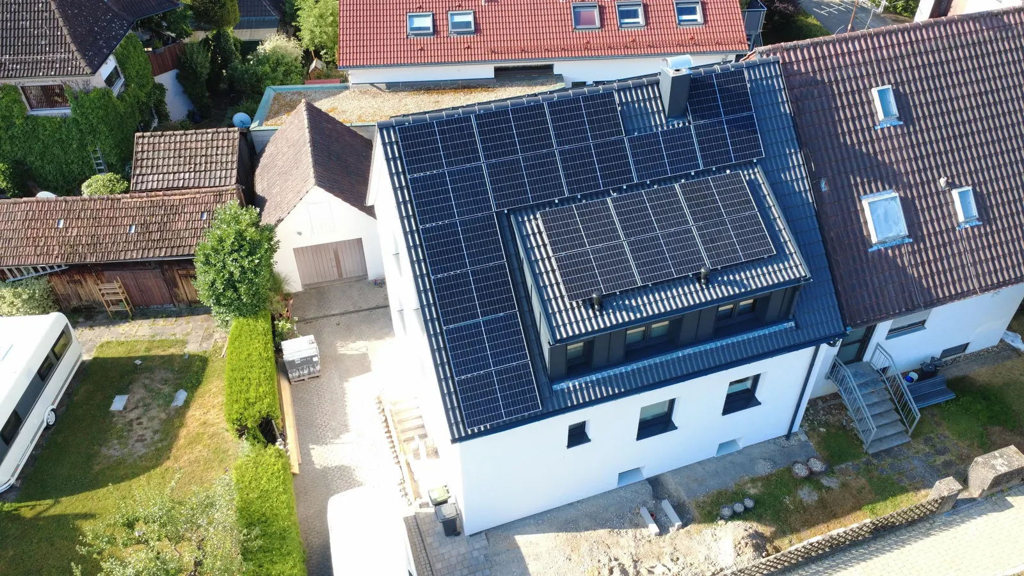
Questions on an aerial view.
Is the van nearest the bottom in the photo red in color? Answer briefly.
No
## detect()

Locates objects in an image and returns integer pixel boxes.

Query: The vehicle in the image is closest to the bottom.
[327,488,424,576]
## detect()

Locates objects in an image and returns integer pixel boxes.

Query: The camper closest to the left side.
[0,311,85,497]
